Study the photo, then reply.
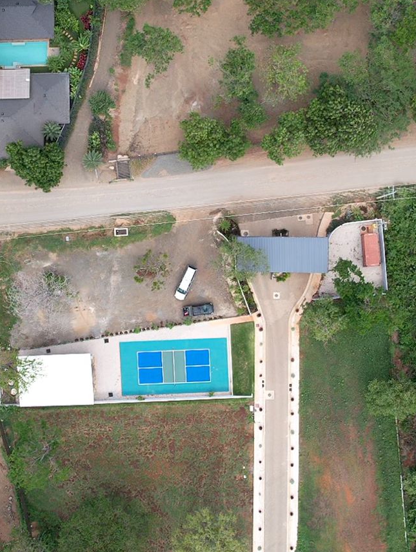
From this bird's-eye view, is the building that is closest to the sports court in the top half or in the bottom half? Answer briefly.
bottom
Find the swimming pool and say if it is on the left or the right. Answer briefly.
left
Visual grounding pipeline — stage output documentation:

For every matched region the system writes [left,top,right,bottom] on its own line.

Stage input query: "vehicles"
[176,266,196,300]
[182,304,214,317]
